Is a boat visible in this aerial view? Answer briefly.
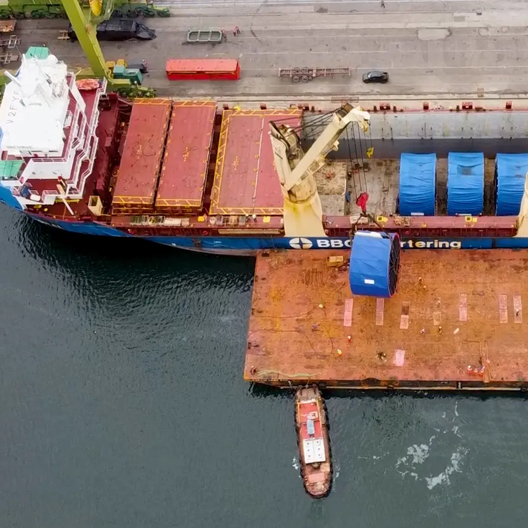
Yes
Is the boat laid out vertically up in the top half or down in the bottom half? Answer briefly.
bottom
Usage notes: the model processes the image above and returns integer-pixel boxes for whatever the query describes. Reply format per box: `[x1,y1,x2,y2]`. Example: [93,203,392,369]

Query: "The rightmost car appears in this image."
[362,71,388,84]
